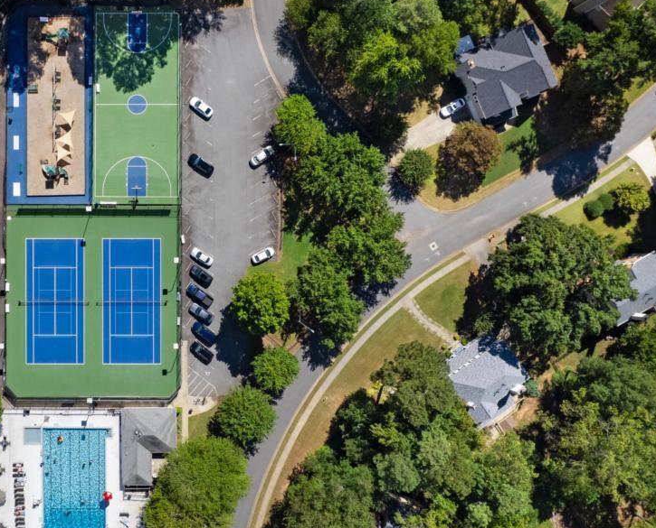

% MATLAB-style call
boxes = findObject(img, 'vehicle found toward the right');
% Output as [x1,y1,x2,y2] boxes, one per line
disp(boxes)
[441,98,467,117]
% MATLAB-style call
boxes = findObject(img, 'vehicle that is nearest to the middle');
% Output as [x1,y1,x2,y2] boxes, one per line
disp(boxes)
[250,247,276,265]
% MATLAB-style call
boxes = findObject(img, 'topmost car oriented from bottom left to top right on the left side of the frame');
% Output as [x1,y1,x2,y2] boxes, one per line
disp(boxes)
[250,145,274,166]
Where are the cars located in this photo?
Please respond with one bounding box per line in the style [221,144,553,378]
[250,145,274,166]
[189,154,213,174]
[189,265,213,285]
[189,304,214,324]
[189,98,214,118]
[441,98,467,117]
[189,342,214,363]
[250,247,276,265]
[192,324,217,345]
[189,247,214,267]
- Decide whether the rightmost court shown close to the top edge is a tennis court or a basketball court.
basketball court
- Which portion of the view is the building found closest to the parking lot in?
bottom left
